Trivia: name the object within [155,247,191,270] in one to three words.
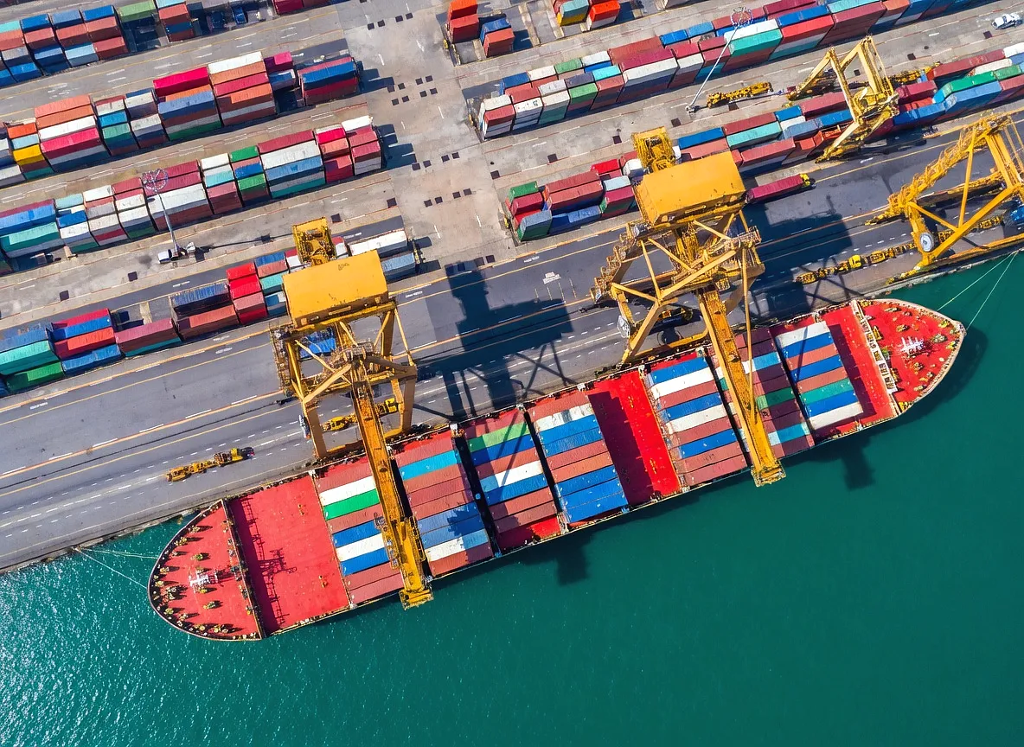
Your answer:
truck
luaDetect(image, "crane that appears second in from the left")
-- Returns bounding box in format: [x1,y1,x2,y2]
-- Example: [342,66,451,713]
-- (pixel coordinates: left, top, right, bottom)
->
[583,118,795,484]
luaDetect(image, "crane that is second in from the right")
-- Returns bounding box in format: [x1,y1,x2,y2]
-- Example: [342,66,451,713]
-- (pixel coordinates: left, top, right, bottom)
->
[789,36,906,161]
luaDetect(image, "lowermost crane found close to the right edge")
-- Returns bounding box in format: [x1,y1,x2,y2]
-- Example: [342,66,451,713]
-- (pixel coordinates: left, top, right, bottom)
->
[852,113,1024,272]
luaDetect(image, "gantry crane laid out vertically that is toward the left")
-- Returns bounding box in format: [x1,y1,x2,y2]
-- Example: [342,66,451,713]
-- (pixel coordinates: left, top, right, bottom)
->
[258,215,432,609]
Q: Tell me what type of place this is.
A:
port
